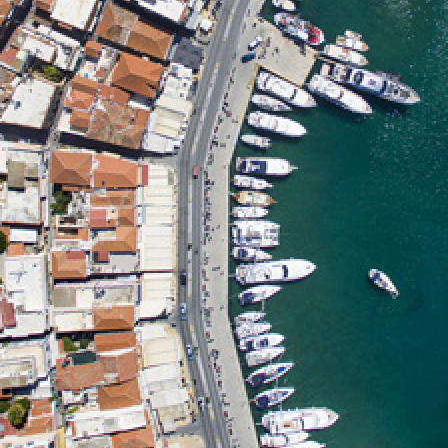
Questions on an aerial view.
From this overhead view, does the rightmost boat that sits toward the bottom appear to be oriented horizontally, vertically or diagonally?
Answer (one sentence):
From this overhead view, the rightmost boat that sits toward the bottom appears to run diagonally.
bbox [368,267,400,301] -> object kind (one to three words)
boat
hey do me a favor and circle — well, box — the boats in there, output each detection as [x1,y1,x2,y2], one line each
[376,69,402,81]
[249,387,296,423]
[250,69,318,107]
[243,346,286,366]
[235,310,266,327]
[227,206,269,224]
[311,56,422,105]
[231,286,283,314]
[241,132,271,148]
[254,432,311,448]
[228,175,271,192]
[231,322,272,350]
[230,259,318,287]
[231,158,299,176]
[242,112,308,138]
[368,267,400,301]
[322,42,369,65]
[343,25,368,42]
[274,0,297,11]
[242,364,294,404]
[232,334,285,353]
[235,190,281,207]
[245,92,293,112]
[273,11,325,44]
[256,408,341,438]
[302,72,375,113]
[227,249,272,269]
[226,220,280,249]
[336,34,368,52]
